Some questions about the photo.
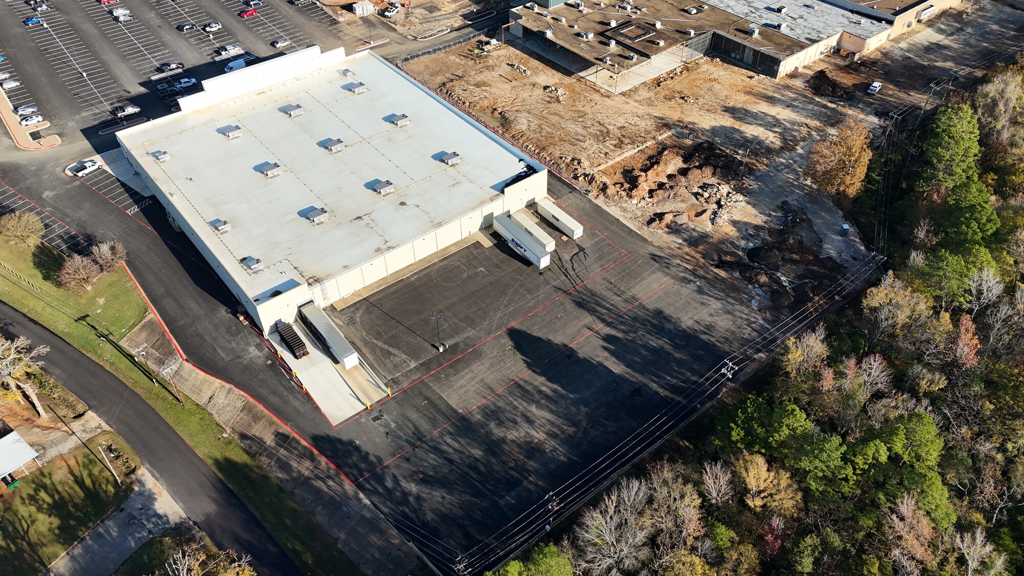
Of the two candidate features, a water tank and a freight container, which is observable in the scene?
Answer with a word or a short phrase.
freight container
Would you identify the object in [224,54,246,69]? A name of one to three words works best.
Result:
vehicle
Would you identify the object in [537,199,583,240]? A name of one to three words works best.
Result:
shipping container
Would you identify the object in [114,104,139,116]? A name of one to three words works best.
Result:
vehicle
